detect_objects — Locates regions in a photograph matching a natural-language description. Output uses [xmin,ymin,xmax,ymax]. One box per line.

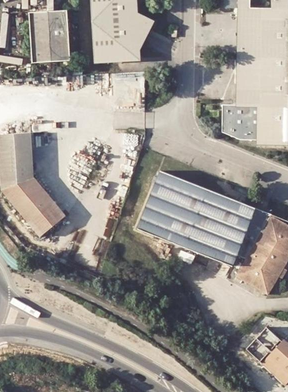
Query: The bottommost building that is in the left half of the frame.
[0,133,65,236]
